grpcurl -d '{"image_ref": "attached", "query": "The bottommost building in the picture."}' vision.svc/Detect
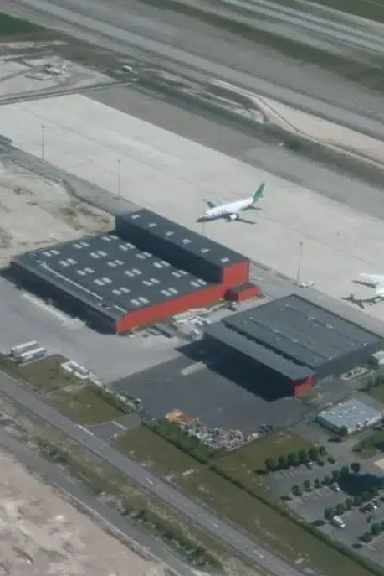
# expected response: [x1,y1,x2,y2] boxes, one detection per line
[318,397,384,437]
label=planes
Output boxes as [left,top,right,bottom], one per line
[358,273,384,296]
[203,183,265,220]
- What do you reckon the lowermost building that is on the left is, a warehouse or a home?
warehouse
